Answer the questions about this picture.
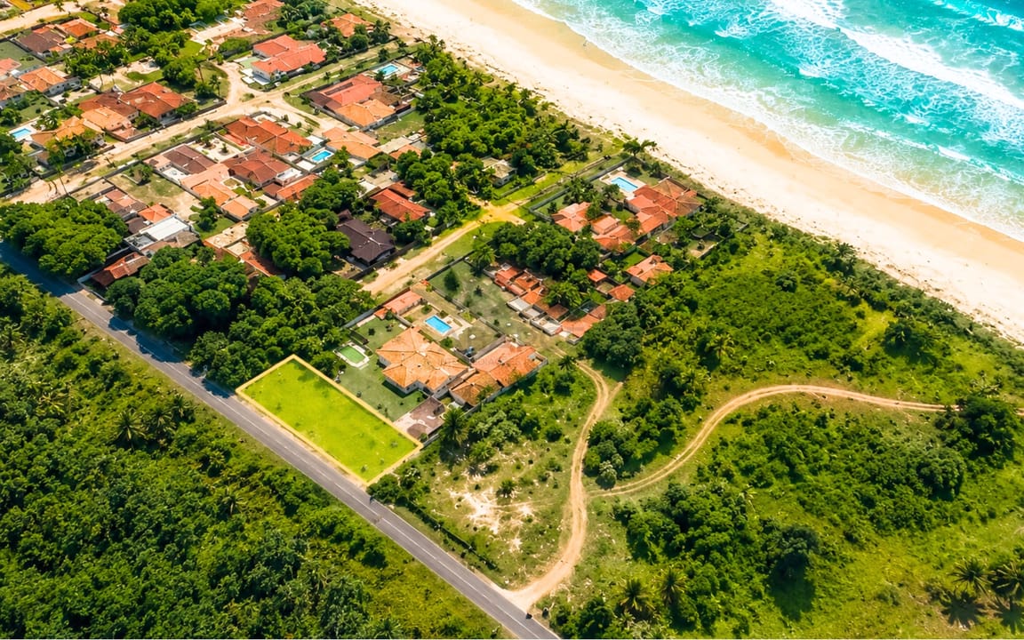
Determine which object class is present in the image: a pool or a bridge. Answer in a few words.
pool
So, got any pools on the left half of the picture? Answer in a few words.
Yes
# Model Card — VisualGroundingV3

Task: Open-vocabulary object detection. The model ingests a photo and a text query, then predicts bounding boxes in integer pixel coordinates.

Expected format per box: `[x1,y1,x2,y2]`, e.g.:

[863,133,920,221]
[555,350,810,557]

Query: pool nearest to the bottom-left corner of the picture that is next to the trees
[340,343,369,366]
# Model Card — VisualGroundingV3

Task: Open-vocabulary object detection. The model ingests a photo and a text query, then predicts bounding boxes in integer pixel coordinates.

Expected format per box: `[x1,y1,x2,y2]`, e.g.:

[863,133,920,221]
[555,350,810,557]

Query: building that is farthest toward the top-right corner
[629,178,705,236]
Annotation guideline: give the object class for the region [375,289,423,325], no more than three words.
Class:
shed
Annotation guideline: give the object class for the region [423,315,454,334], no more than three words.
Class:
swimming pool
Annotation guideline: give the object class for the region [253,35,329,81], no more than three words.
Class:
house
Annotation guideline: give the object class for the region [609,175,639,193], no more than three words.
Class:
swimming pool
